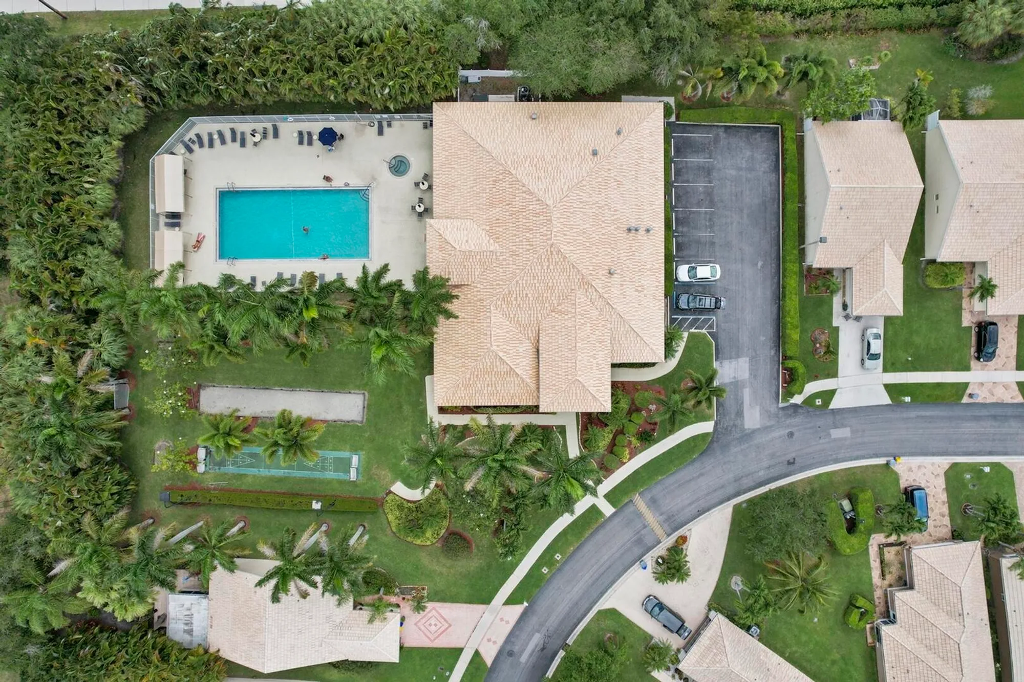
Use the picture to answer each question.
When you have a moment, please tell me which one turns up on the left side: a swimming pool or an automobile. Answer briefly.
swimming pool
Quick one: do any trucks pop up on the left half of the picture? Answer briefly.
No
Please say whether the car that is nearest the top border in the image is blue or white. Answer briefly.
white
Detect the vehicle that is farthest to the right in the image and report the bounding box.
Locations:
[973,322,998,362]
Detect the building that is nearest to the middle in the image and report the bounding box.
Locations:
[425,100,665,413]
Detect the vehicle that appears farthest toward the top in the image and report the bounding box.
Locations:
[675,263,720,283]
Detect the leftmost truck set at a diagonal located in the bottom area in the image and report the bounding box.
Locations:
[643,594,693,642]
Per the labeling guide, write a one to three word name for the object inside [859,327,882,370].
car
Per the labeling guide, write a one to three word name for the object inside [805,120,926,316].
house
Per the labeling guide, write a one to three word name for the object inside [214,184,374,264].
swimming pool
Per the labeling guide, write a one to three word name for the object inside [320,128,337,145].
umbrella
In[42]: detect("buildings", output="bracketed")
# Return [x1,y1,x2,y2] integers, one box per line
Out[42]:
[877,538,994,682]
[986,549,1024,682]
[209,560,401,673]
[805,120,926,316]
[678,612,818,682]
[425,100,665,413]
[925,119,1024,314]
